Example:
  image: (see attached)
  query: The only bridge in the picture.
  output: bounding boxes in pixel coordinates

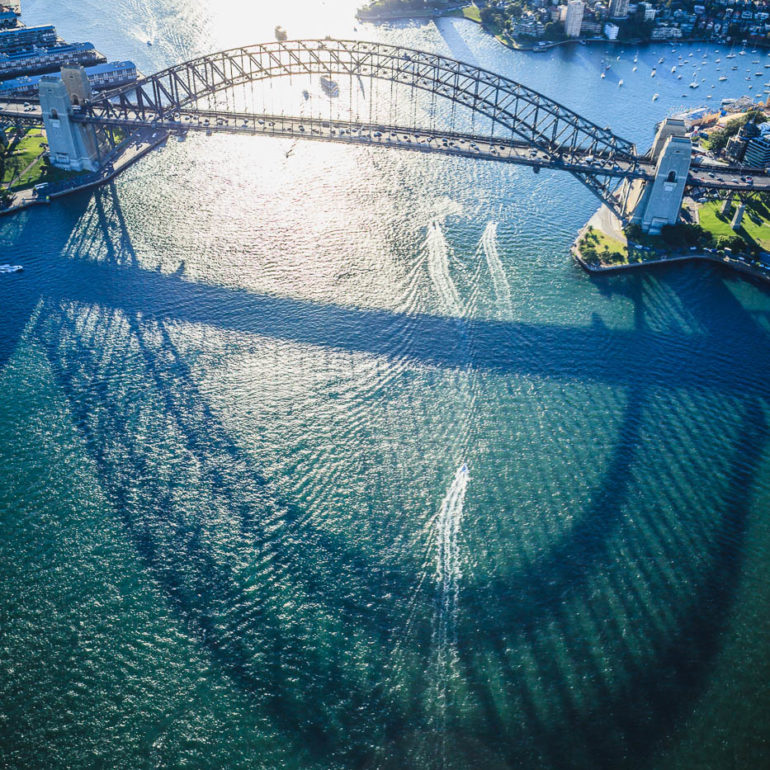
[0,37,770,238]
